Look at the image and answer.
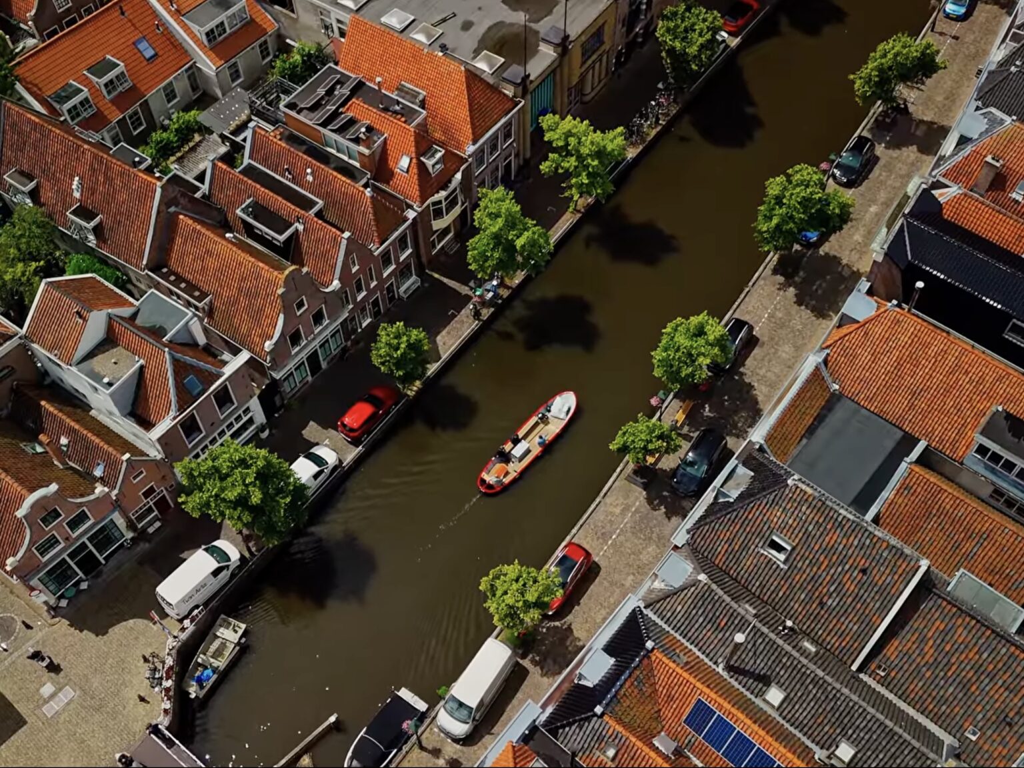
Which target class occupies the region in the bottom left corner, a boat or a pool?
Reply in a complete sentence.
The one visible in the bottom left corner is a boat.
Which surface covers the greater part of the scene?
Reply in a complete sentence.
What you mostly see from above here is buildings.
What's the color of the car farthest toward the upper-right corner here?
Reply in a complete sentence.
The color of the car farthest toward the upper-right corner is blue.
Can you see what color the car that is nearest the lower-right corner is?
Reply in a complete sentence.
In this view, the car that is nearest the lower-right corner is black.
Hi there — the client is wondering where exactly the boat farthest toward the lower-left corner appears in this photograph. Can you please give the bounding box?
[183,614,248,701]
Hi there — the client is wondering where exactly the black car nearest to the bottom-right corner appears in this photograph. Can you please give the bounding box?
[670,424,730,505]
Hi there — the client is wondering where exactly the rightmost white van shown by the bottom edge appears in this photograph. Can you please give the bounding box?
[431,627,524,745]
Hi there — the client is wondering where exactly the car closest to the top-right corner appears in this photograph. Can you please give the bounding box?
[943,0,975,25]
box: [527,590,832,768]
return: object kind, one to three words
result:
house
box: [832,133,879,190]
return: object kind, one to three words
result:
car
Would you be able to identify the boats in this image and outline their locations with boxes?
[183,614,248,701]
[477,388,579,496]
[344,682,436,768]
